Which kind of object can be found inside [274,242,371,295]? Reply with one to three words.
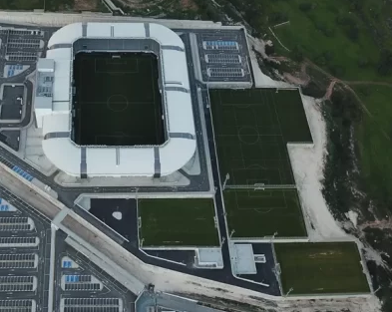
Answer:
soccer field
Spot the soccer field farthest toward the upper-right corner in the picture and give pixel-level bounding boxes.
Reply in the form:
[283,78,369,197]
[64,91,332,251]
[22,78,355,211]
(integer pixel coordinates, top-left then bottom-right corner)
[207,87,313,187]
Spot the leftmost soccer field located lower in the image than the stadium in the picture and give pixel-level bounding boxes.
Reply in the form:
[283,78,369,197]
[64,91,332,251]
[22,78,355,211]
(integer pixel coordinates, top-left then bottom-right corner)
[137,198,220,248]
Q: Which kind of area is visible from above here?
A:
sports ground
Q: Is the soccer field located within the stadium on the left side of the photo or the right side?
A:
left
